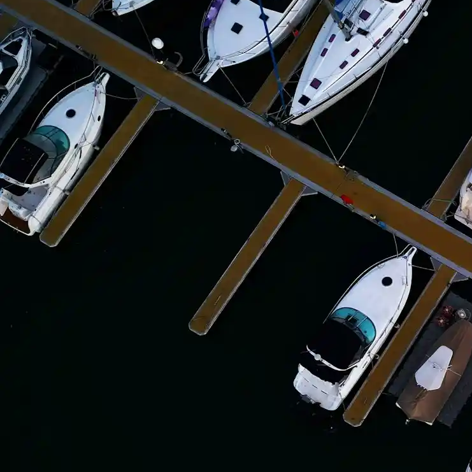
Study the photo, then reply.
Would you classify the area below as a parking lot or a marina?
marina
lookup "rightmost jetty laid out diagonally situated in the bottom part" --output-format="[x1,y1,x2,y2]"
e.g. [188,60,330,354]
[342,256,471,428]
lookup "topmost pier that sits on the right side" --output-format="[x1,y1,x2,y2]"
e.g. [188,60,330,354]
[246,0,333,119]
